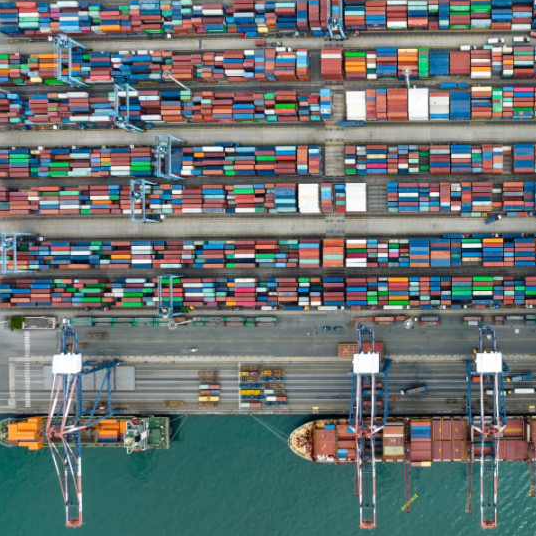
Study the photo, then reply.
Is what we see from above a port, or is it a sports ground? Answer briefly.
port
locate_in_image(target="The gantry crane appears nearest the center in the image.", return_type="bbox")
[155,275,194,319]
